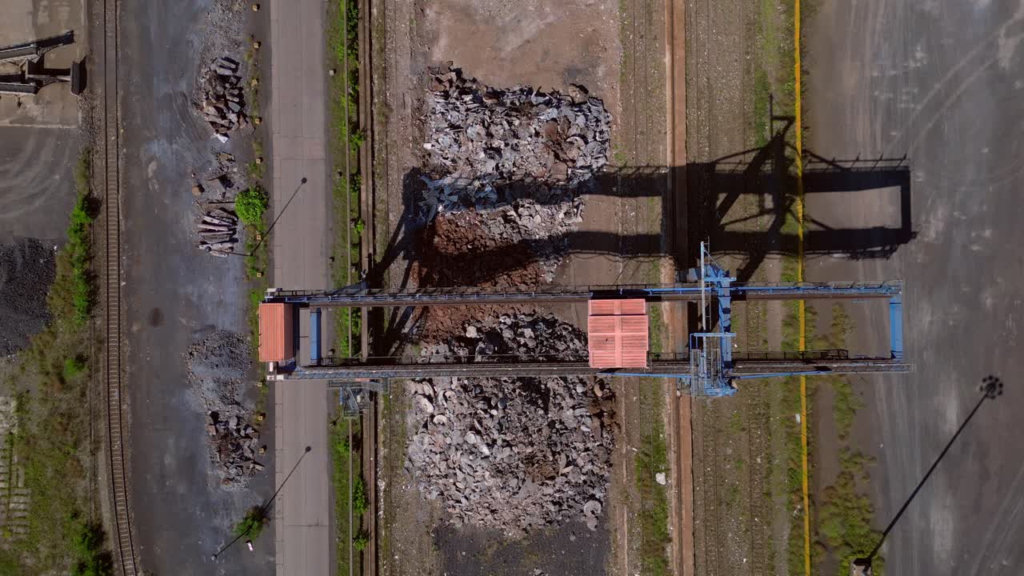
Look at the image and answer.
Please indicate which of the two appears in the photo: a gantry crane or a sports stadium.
gantry crane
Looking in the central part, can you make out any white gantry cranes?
No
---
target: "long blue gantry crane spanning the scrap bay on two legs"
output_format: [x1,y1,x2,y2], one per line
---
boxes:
[254,236,916,426]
